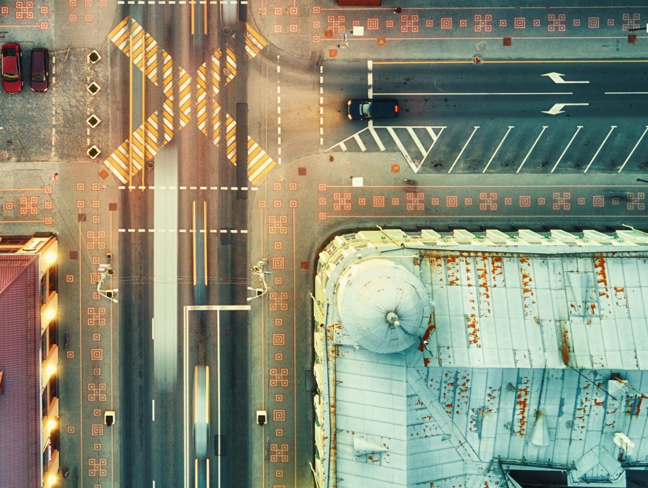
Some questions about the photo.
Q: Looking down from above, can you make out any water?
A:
No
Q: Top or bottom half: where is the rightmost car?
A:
top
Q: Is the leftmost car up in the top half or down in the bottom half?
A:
top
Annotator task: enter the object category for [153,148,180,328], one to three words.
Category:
bus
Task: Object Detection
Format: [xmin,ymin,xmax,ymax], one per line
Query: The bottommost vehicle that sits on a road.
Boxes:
[193,463,213,488]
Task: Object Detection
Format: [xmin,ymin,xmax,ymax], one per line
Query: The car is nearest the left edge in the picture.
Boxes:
[0,43,23,93]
